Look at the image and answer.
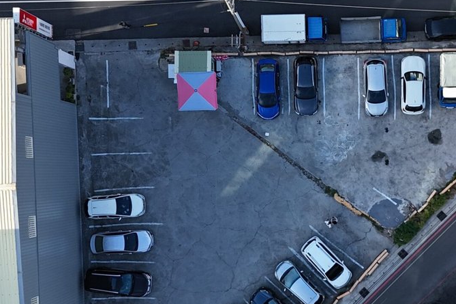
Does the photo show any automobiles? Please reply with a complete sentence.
Yes, an automobile appears in the view.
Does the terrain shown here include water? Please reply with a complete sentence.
No, the scene doesn't show any water.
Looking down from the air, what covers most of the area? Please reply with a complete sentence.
For the most part, this view shows paved ground.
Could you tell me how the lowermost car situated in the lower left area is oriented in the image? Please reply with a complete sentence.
The lowermost car situated in the lower left area is laid out horizontally.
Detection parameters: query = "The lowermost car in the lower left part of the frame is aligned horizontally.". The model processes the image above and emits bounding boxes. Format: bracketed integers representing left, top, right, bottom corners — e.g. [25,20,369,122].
[83,267,152,300]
